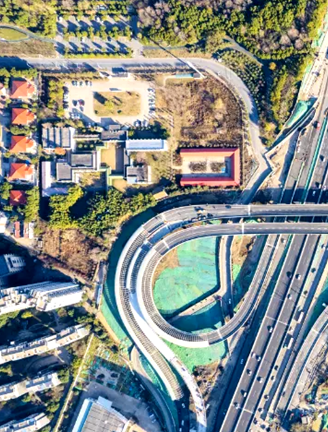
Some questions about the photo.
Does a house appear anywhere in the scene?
Yes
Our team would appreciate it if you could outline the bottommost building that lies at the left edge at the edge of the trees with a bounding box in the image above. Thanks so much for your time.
[0,409,60,432]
